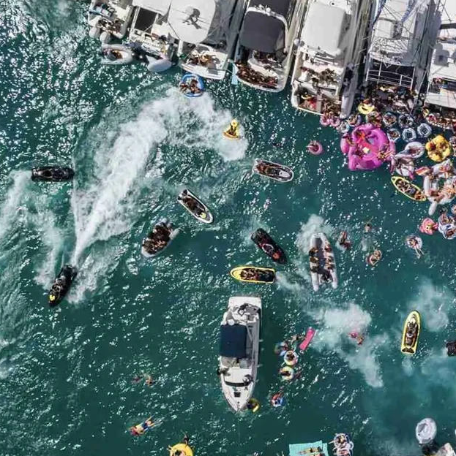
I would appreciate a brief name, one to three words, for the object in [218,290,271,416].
boat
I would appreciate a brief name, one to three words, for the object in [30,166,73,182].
boat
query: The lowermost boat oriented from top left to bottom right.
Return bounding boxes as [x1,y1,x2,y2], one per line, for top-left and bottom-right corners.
[249,225,282,263]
